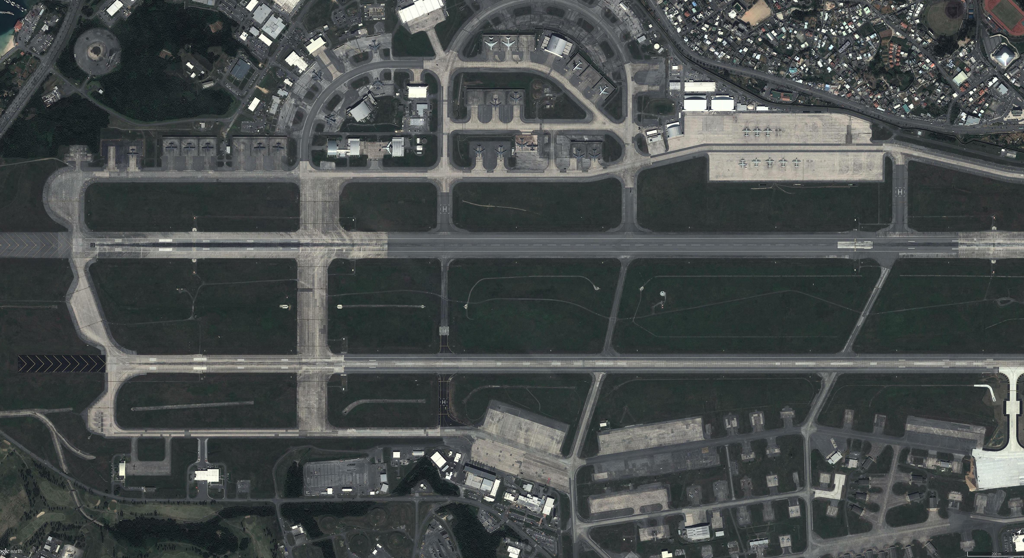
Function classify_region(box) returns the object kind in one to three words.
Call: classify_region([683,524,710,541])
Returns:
hangar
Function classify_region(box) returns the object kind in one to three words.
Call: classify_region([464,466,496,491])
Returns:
building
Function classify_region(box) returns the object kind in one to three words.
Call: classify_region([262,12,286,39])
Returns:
building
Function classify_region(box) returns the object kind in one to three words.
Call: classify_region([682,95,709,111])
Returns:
hangar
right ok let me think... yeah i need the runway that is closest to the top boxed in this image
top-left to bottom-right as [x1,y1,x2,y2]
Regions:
[15,232,1024,258]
